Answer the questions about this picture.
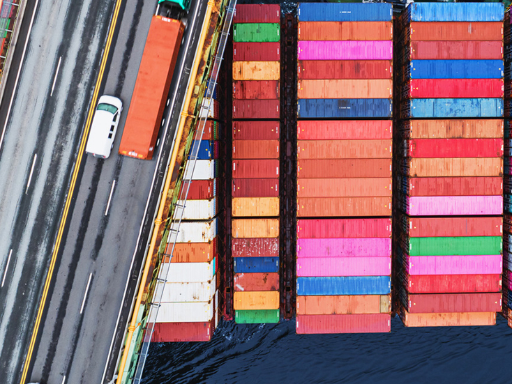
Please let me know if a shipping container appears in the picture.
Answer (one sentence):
Yes, there is a shipping container in the image.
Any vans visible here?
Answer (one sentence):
Yes, a van can be made out from above.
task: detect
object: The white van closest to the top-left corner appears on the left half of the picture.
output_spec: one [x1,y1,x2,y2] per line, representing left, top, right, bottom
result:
[85,94,124,161]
